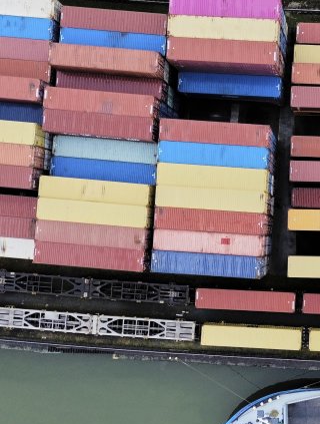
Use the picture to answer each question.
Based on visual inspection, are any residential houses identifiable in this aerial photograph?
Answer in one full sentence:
No, no residential house is visible in the view.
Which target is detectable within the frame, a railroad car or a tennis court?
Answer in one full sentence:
Of the two, only a railroad car appears.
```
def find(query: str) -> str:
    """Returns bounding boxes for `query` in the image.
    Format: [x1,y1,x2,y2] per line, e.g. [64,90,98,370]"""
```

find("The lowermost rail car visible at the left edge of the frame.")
[0,308,94,336]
